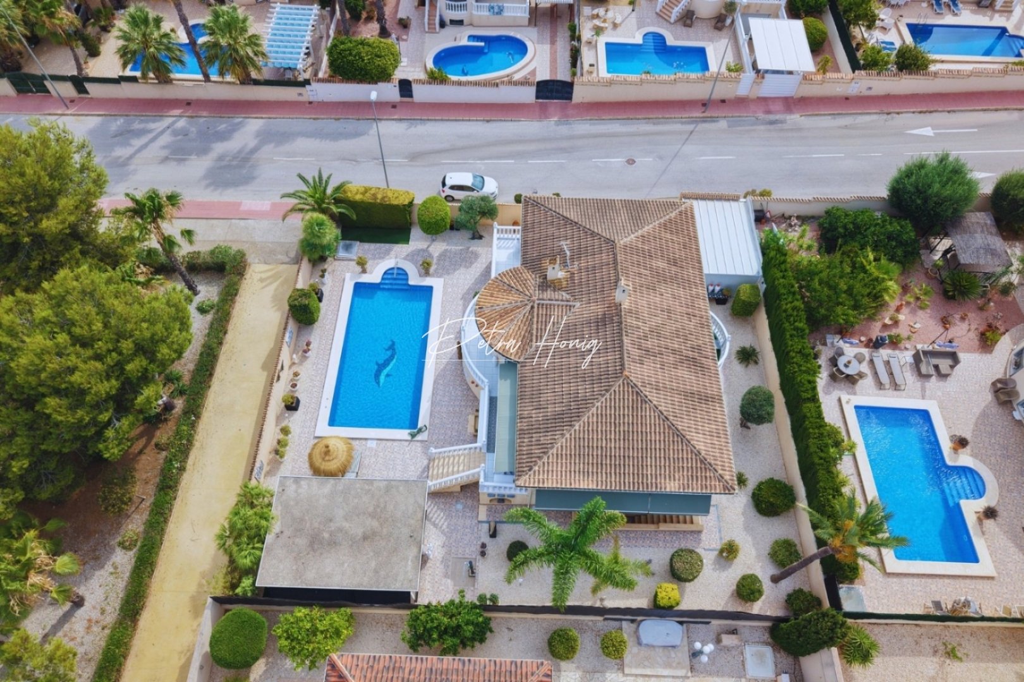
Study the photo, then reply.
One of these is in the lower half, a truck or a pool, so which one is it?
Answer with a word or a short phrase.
pool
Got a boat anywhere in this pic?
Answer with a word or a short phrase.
No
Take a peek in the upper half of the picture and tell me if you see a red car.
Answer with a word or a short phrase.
No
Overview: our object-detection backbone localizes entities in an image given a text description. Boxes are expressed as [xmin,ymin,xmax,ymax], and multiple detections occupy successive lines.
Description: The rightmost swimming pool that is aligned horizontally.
[896,10,1024,61]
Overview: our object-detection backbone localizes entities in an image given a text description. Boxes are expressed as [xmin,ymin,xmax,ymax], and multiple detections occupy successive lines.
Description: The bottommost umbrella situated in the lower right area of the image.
[944,591,982,620]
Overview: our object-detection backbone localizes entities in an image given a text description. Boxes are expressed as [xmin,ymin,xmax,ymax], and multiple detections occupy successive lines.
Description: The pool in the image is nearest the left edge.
[120,18,278,79]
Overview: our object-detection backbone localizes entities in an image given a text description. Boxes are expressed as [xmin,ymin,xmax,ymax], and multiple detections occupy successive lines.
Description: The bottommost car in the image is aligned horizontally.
[439,173,498,201]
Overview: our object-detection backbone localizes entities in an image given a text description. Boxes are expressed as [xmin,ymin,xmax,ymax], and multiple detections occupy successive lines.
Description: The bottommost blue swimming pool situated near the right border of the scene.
[841,395,1001,577]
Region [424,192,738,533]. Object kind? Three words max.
house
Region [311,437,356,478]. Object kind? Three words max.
umbrella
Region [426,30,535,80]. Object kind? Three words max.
swimming pool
